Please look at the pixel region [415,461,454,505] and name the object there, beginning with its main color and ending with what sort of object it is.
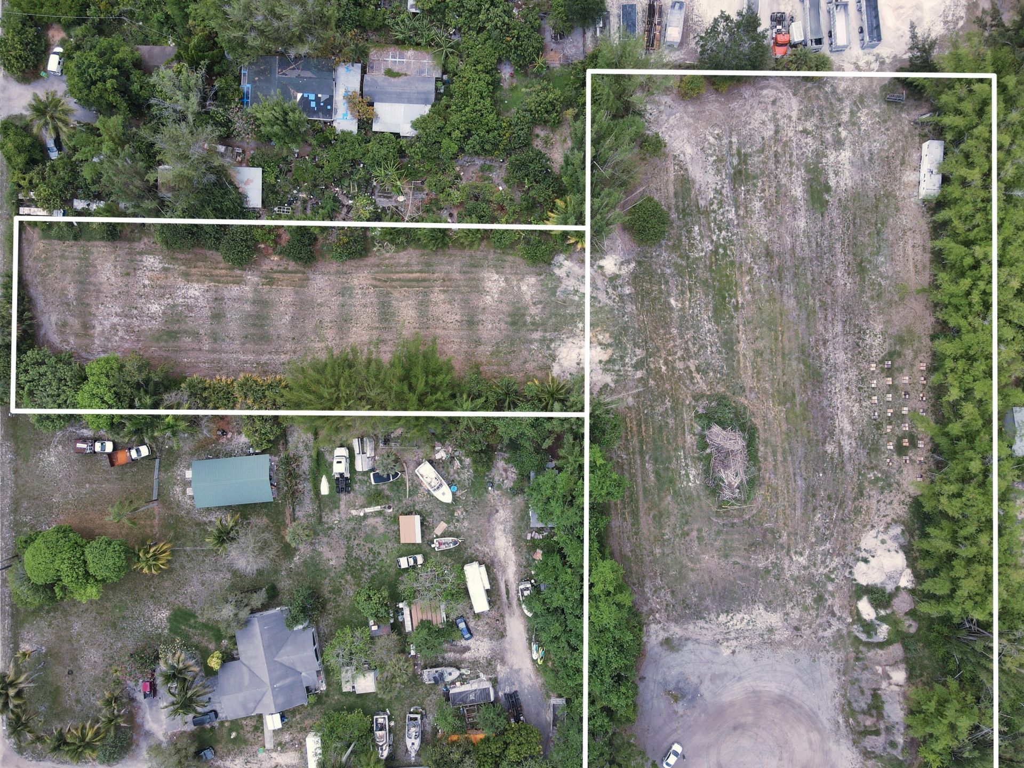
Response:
white boat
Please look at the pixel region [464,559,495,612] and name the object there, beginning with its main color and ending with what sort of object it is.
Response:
white vehicle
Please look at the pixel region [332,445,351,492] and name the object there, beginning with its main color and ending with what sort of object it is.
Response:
white vehicle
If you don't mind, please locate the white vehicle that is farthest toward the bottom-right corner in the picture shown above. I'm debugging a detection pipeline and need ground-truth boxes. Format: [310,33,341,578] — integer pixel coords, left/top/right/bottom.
[659,740,681,768]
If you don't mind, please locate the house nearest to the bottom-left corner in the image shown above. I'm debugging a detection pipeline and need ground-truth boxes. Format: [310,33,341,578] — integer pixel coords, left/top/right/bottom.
[218,607,327,719]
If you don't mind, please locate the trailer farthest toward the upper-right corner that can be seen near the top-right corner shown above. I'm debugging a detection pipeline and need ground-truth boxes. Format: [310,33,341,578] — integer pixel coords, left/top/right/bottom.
[859,0,883,48]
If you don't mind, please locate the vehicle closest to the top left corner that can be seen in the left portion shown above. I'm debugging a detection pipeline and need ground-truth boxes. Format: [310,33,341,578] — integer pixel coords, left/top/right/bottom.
[46,47,66,78]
